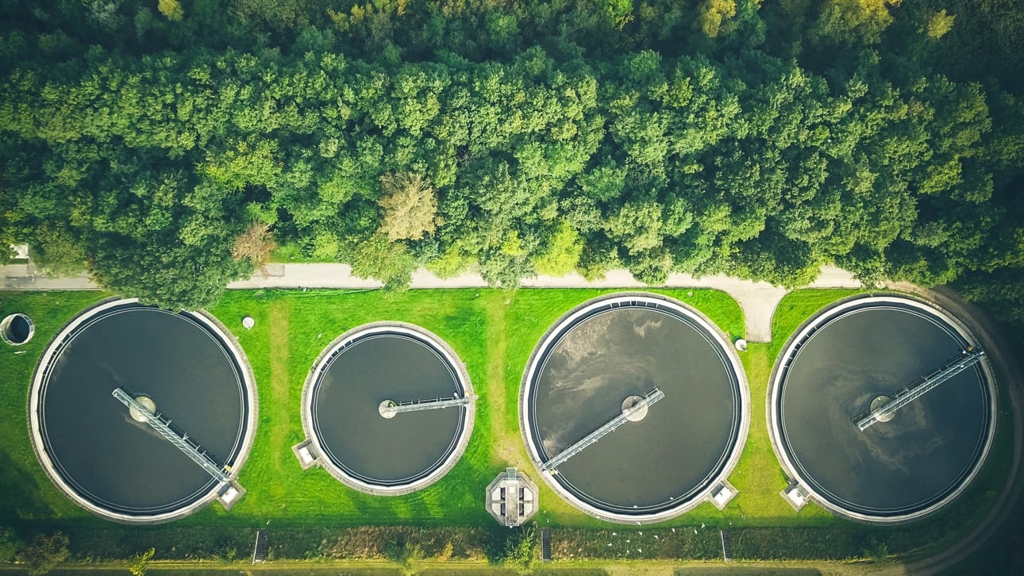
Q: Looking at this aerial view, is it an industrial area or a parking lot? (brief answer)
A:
industrial area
